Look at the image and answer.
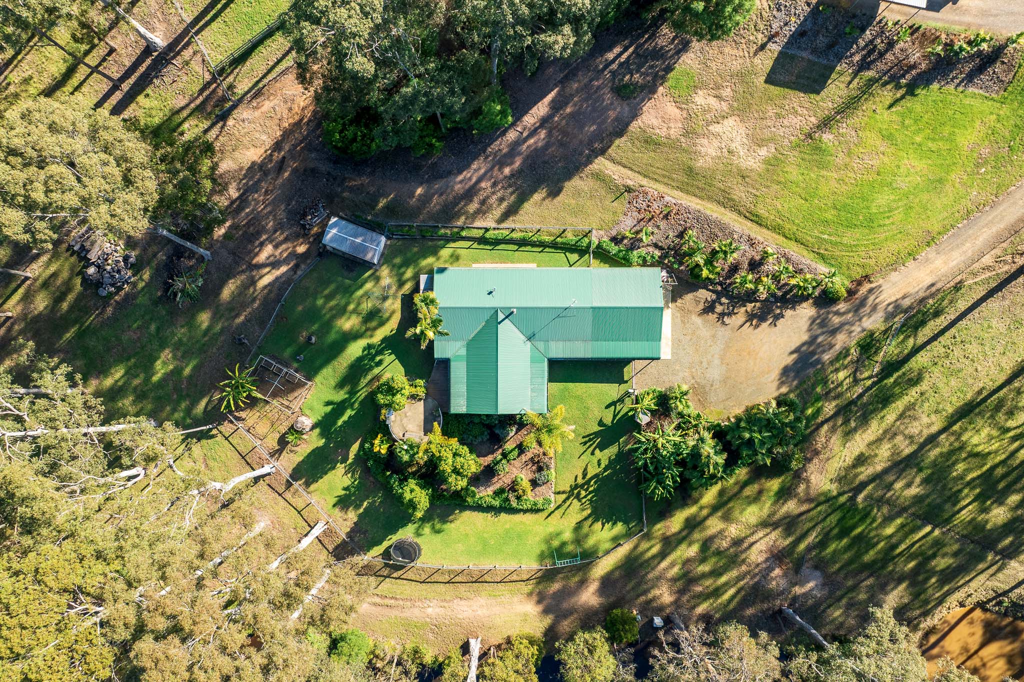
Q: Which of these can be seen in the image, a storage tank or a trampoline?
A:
trampoline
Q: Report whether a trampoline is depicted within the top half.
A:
No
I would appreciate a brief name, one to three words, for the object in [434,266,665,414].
house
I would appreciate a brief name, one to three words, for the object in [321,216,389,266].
shed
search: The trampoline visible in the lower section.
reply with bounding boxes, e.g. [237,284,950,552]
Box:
[390,533,425,570]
